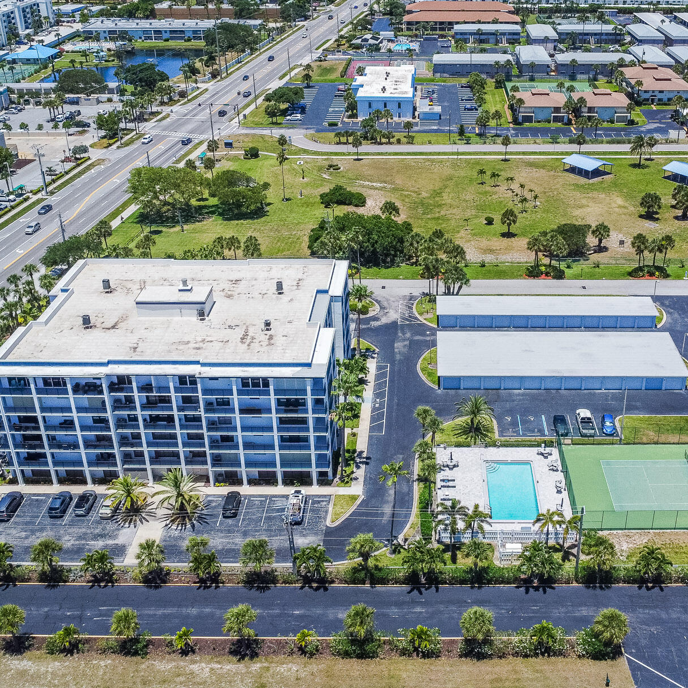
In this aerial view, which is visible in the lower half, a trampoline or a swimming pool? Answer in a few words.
swimming pool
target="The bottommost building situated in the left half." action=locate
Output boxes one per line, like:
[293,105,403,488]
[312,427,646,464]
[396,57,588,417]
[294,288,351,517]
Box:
[0,254,354,486]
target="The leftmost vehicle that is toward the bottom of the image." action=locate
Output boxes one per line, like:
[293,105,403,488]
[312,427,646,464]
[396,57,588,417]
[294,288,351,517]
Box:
[0,493,22,519]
